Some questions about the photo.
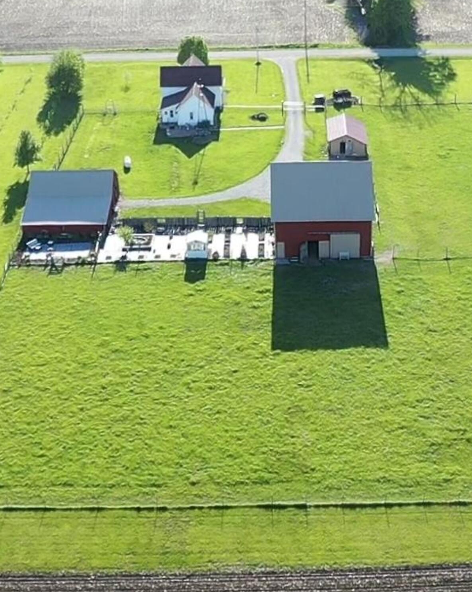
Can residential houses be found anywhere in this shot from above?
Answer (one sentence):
Yes, a residential house is visible in the scene.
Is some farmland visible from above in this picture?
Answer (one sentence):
Yes, there's farmland in this view.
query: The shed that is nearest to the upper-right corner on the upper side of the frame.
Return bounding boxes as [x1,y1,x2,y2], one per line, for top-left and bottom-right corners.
[328,109,369,156]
